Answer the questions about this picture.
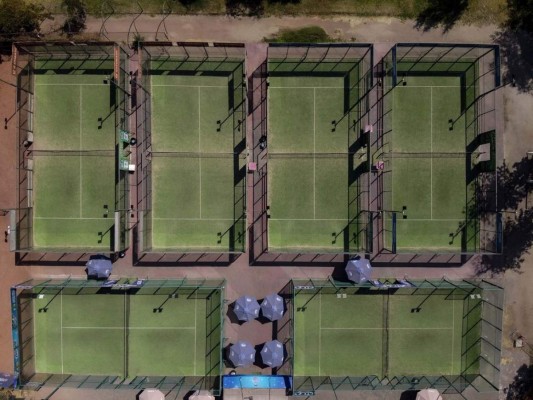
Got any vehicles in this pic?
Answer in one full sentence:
No, no vehicle is visible in the scene.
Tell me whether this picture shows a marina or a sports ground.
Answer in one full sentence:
It's a sports ground.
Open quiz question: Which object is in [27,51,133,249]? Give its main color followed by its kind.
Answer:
green sports court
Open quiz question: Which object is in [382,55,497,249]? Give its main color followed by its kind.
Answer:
green sports court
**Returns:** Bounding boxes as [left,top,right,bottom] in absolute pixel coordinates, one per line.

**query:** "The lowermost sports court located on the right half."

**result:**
[289,279,484,378]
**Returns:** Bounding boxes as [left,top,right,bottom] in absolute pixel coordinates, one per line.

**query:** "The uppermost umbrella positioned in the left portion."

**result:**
[86,255,112,281]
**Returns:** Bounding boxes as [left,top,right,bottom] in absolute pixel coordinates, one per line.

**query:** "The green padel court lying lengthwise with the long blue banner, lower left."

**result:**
[31,279,225,378]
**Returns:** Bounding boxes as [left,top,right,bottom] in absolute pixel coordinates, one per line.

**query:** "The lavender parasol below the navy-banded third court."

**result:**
[344,256,372,284]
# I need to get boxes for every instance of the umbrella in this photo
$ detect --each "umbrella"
[260,339,286,365]
[233,294,259,321]
[138,389,164,400]
[228,340,255,368]
[344,256,372,284]
[189,390,214,400]
[416,389,442,400]
[259,292,285,318]
[86,255,112,281]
